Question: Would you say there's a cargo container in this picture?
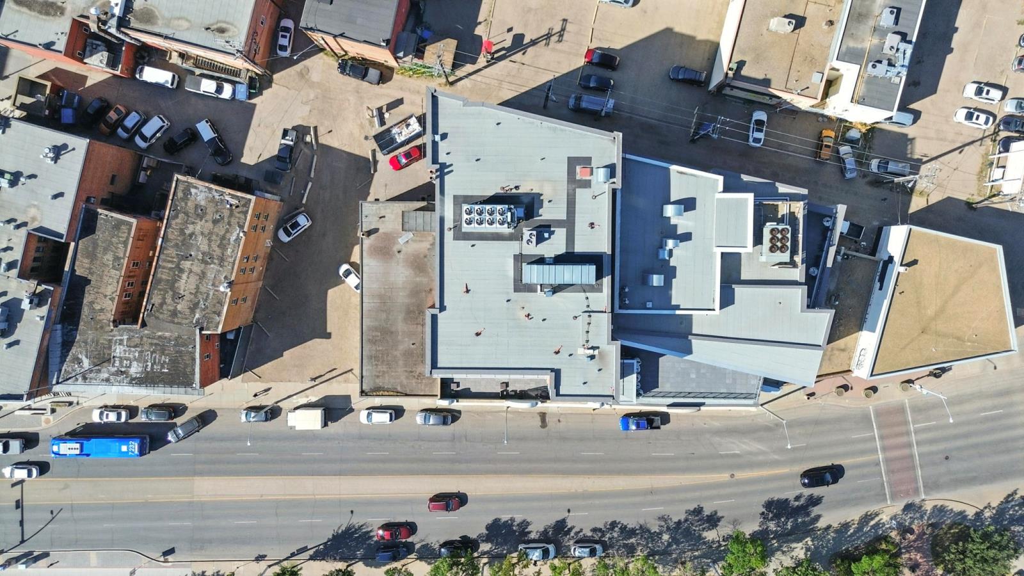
Yes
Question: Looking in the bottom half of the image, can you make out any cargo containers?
No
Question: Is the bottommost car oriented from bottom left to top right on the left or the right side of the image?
left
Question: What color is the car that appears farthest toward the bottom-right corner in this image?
black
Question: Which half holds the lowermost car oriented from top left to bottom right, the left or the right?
left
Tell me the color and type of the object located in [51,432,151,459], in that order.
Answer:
blue bus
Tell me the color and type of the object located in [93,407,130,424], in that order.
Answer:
white car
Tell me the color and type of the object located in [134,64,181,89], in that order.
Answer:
white vehicle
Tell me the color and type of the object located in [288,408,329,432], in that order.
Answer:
white truck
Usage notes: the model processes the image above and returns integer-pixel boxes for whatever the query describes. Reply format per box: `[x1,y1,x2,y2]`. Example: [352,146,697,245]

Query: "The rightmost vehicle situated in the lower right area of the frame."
[797,466,837,487]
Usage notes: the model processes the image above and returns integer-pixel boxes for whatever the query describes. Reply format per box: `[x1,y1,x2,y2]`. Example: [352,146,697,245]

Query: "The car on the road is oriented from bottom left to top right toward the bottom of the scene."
[167,415,205,444]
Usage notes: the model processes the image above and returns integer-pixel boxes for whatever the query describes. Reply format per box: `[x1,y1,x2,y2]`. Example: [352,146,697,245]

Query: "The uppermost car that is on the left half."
[277,19,295,56]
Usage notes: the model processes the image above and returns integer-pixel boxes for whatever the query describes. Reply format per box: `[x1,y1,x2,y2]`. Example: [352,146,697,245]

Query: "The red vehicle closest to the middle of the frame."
[389,145,422,170]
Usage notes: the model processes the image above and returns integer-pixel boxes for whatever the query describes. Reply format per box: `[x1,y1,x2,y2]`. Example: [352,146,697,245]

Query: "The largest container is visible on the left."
[372,114,422,154]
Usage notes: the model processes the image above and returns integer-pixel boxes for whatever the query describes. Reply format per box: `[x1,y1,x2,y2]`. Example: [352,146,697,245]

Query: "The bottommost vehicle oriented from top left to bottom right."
[337,263,360,297]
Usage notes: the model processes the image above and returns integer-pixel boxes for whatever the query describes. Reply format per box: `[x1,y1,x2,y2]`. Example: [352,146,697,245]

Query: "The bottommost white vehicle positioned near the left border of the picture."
[6,464,42,481]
